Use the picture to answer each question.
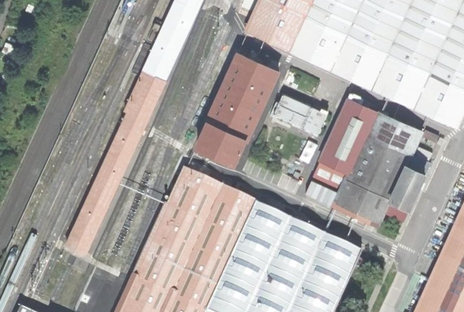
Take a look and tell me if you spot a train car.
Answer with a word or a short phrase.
Yes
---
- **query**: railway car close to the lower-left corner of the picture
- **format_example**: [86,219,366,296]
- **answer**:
[0,244,18,288]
